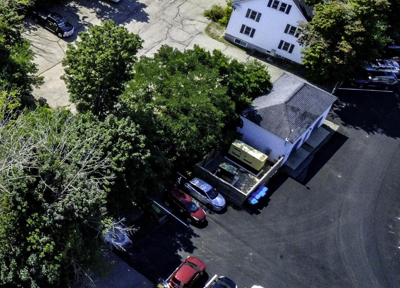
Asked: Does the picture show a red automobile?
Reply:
Yes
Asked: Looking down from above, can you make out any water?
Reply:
No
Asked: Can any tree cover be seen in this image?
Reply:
Yes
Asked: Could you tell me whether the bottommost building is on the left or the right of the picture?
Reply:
right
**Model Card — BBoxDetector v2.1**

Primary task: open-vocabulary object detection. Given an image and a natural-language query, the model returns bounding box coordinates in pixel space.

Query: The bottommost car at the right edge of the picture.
[350,71,397,92]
